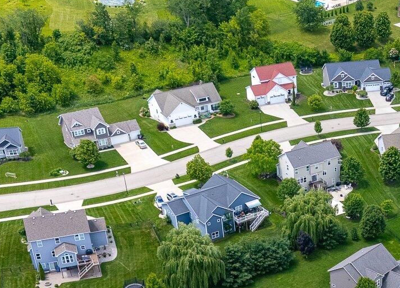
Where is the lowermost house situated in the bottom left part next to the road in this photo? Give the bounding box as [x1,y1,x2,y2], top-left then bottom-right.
[24,202,109,277]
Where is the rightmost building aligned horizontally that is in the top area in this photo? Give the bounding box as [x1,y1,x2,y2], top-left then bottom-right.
[321,60,391,92]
